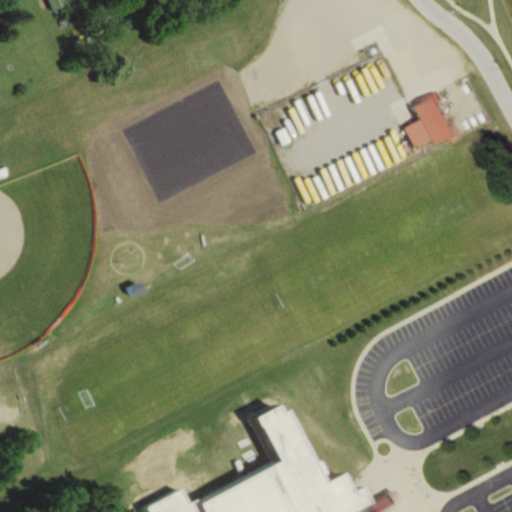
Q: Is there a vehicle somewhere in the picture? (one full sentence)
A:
Yes, I can see a vehicle in this picture.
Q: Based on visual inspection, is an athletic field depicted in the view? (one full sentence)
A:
Yes, the image includes an athletic field.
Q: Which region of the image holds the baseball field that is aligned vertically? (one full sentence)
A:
The baseball field that is aligned vertically is located in the left region of the scene.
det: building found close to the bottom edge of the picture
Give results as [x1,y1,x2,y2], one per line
[148,403,376,512]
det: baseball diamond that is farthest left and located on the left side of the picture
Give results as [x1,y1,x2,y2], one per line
[0,156,94,358]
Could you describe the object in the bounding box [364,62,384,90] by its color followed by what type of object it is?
yellow vehicle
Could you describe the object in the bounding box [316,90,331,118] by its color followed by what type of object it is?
white vehicle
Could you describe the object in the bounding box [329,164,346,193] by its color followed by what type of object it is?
white vehicle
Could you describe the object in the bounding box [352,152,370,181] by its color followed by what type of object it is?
yellow vehicle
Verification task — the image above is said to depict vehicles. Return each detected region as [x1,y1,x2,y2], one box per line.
[284,118,298,139]
[288,108,304,136]
[385,136,402,164]
[338,159,354,188]
[352,152,370,181]
[374,58,389,80]
[308,94,324,122]
[321,168,338,196]
[294,176,312,206]
[359,64,378,96]
[314,174,330,202]
[364,62,384,90]
[304,177,322,205]
[316,90,331,118]
[468,114,478,128]
[441,93,450,104]
[368,144,386,172]
[461,118,470,131]
[460,79,470,94]
[331,78,346,98]
[350,69,370,99]
[398,144,408,160]
[390,130,401,145]
[346,156,362,184]
[476,110,486,124]
[329,164,346,193]
[360,148,378,176]
[295,98,312,127]
[376,140,394,168]
[342,74,361,106]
